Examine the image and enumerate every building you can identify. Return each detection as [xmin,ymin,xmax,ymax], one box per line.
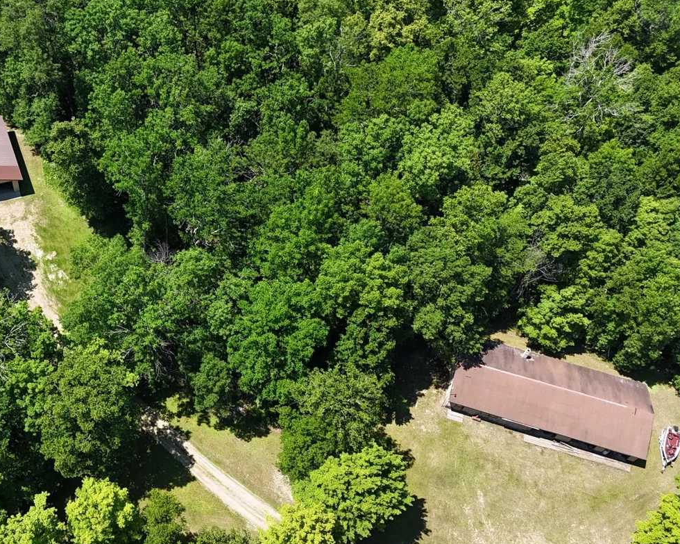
[0,119,23,203]
[448,338,654,461]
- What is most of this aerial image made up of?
trees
